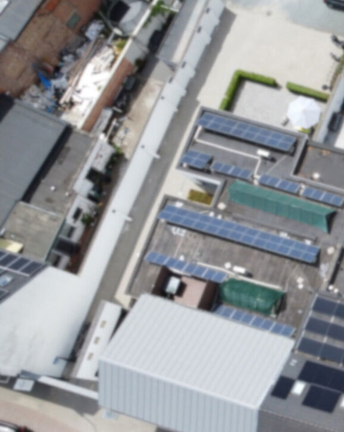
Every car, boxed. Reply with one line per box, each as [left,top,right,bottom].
[0,420,30,432]
[321,0,344,10]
